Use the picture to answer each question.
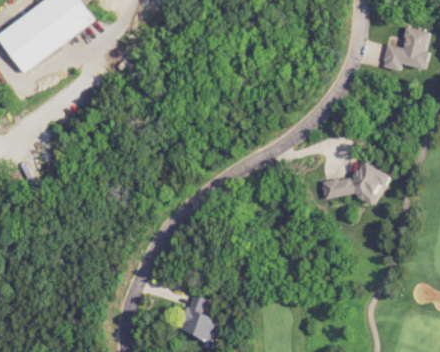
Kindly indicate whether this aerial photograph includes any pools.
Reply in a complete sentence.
No, the frame has no pool in it.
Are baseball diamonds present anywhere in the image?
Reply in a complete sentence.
No, no baseball diamond is visible in the scene.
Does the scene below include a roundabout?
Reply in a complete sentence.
No, the photo shows no roundabout.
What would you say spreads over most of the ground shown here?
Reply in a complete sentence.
The scene is dominated by trees.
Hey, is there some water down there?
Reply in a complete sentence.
No, the scene doesn't show any water.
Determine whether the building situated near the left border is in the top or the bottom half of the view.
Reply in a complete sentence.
Seen from above, the building situated near the left border lies in the top half of the view.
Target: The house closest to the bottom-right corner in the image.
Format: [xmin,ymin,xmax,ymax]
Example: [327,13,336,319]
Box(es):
[322,162,393,206]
